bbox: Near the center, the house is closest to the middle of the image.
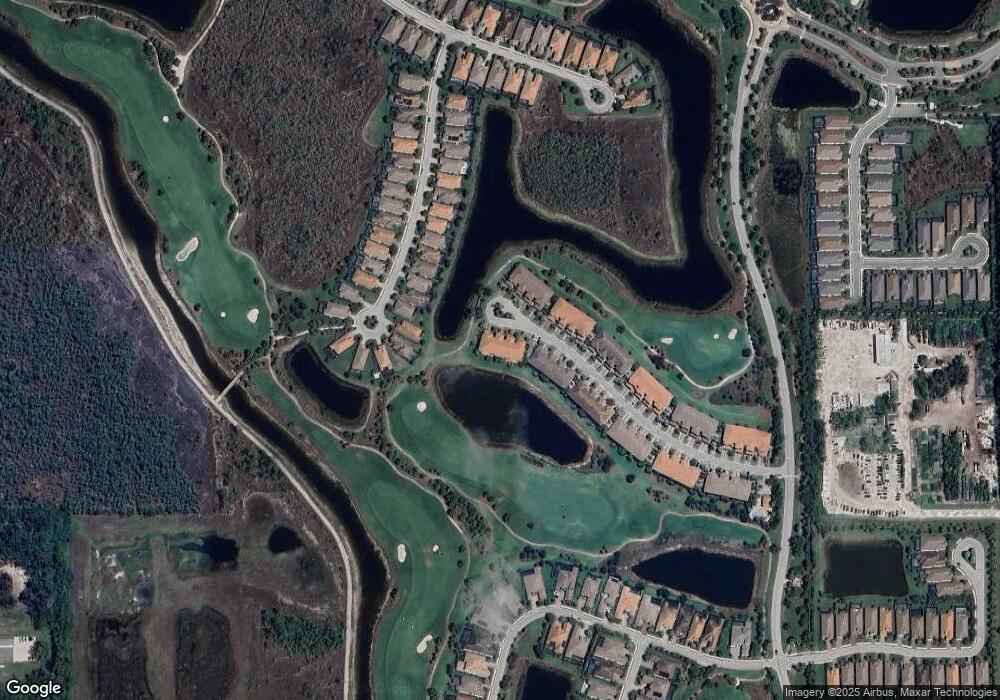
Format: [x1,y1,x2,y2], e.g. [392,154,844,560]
[479,330,526,363]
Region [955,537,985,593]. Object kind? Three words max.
roundabout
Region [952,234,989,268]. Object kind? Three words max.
roundabout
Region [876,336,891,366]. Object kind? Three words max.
building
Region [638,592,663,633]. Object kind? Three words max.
house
